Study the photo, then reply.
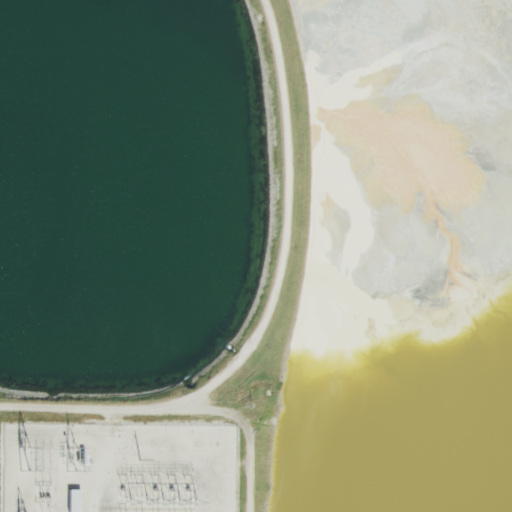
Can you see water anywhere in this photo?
Yes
